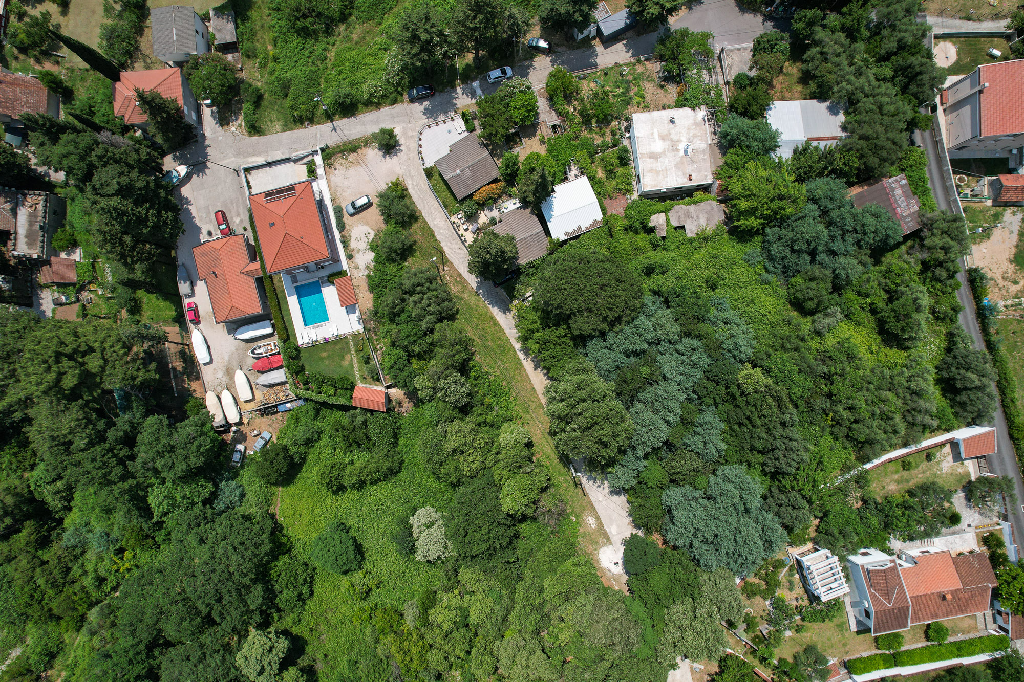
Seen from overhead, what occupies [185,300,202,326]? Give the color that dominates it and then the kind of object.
red car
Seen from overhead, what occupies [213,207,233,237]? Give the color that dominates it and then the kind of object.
red car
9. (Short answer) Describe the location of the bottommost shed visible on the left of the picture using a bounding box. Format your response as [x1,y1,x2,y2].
[352,386,387,412]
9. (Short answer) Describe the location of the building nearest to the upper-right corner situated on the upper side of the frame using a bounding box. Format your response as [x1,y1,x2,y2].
[943,59,1024,150]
